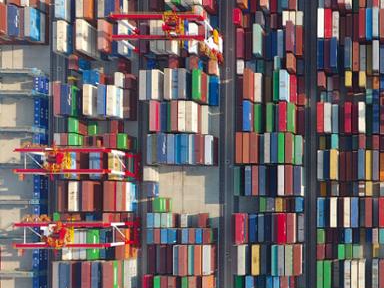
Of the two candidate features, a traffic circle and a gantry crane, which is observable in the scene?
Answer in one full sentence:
Visible in the photo is a gantry crane.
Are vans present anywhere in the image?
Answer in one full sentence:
No, there appears to be no van in this shot.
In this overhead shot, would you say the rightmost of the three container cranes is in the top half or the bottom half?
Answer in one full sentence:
The rightmost of the three container cranes is in the top half of the image.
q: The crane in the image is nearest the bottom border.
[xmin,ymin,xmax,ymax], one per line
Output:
[12,215,143,253]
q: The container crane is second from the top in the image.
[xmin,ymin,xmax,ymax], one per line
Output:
[12,143,143,181]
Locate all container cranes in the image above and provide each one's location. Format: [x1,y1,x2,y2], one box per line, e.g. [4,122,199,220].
[111,8,229,88]
[12,143,143,181]
[12,215,143,253]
